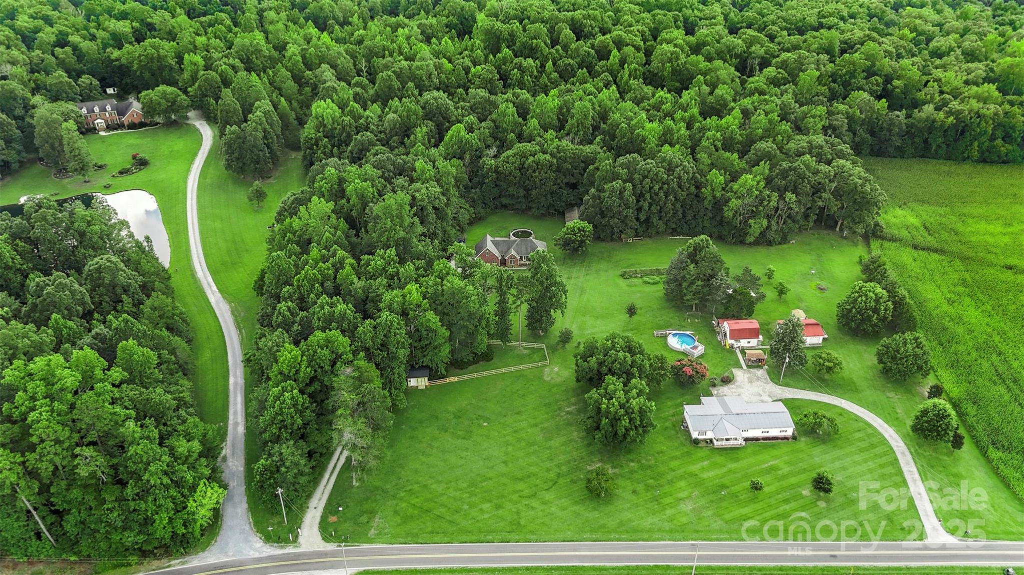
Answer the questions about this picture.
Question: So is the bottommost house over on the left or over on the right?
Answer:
right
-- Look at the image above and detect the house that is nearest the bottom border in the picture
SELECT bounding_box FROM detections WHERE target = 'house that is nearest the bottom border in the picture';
[685,396,795,447]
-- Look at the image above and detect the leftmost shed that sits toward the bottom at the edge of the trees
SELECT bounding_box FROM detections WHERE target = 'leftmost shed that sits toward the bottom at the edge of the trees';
[407,371,430,391]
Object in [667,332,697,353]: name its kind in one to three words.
swimming pool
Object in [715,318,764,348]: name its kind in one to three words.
barn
